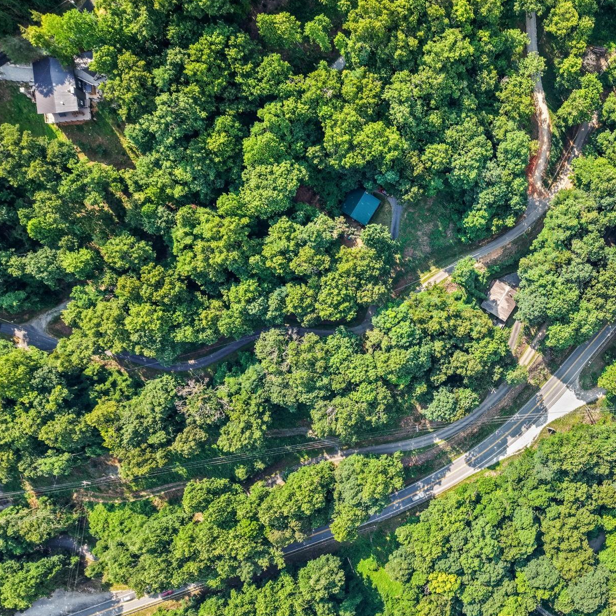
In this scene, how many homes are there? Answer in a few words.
3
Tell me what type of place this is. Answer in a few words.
forest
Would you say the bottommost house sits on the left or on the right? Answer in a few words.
right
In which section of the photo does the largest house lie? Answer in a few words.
top left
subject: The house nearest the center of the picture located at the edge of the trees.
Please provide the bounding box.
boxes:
[342,189,381,226]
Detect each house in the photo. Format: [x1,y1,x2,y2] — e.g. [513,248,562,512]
[481,280,520,330]
[20,57,104,125]
[342,189,381,226]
